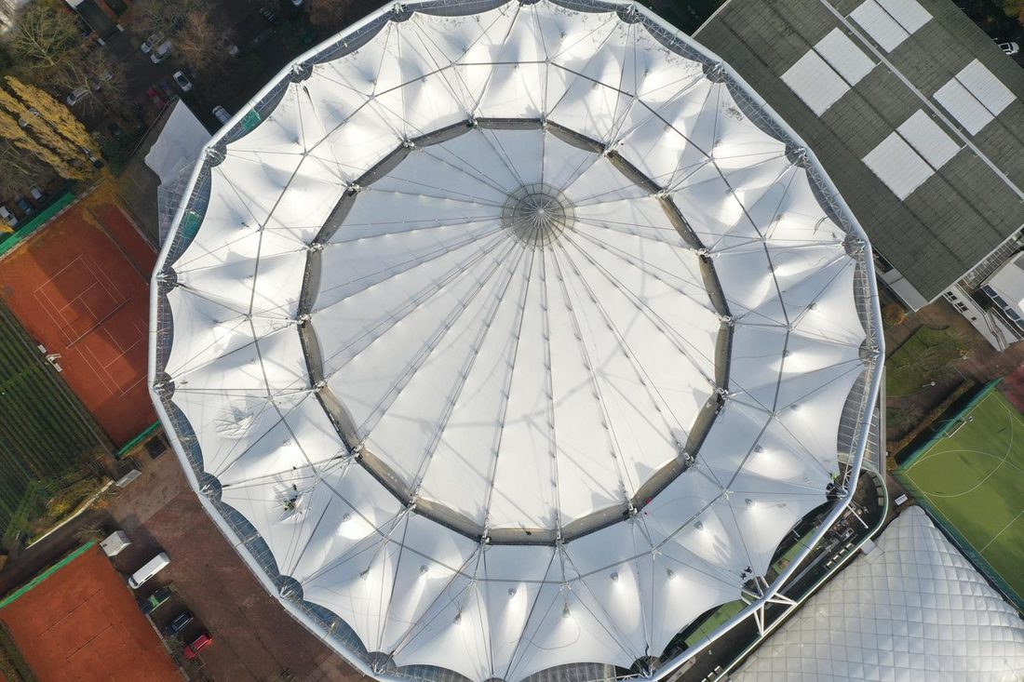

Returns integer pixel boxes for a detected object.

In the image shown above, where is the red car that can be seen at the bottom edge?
[181,633,210,660]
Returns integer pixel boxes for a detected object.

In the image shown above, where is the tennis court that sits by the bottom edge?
[0,549,183,682]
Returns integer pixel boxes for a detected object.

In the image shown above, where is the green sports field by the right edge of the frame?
[891,385,1024,602]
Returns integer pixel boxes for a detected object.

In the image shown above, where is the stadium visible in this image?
[150,0,889,682]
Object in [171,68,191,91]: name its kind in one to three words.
car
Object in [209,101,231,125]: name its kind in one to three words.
vehicle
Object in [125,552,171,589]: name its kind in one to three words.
van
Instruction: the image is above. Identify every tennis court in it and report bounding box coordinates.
[0,549,183,682]
[94,200,159,285]
[0,198,163,449]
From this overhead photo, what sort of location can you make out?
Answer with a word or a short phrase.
sports ground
